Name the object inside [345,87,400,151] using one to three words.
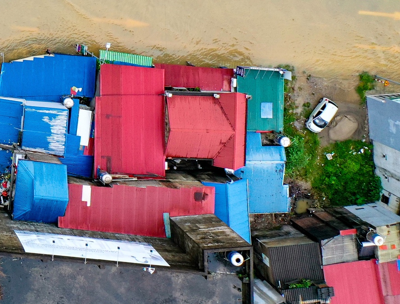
house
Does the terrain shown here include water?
Yes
